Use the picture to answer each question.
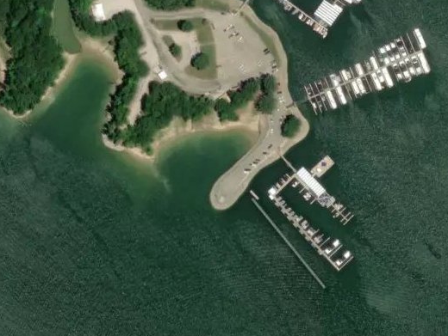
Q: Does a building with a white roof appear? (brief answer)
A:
Yes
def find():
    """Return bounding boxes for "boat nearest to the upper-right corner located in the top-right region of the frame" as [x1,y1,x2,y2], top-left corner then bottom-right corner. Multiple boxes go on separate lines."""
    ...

[415,28,427,48]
